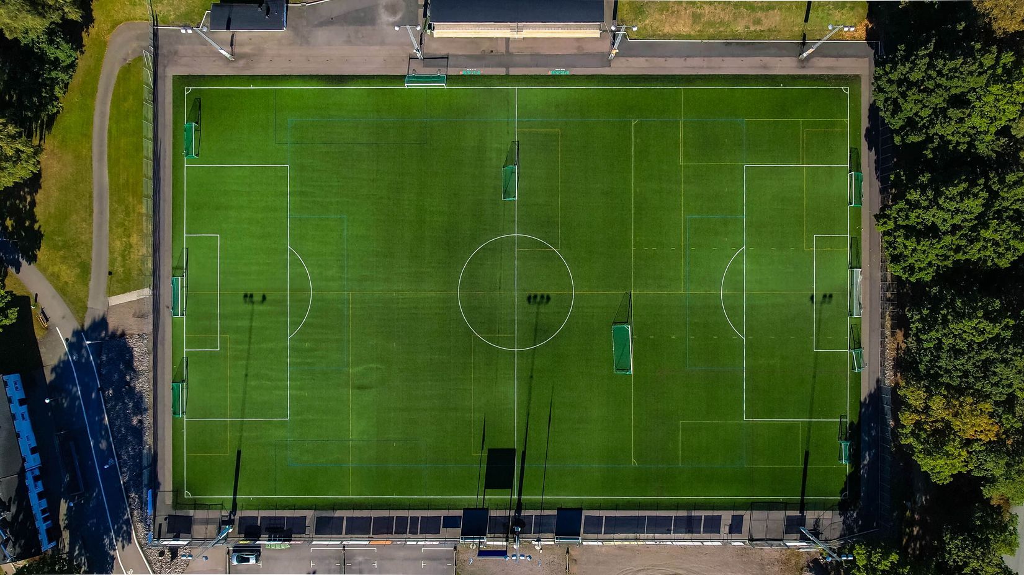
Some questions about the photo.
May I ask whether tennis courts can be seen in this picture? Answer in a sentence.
No, I can see no tennis court in this picture.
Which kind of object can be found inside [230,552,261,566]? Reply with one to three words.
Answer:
car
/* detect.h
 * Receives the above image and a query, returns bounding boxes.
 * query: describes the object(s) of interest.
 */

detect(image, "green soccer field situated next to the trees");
[172,75,861,510]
